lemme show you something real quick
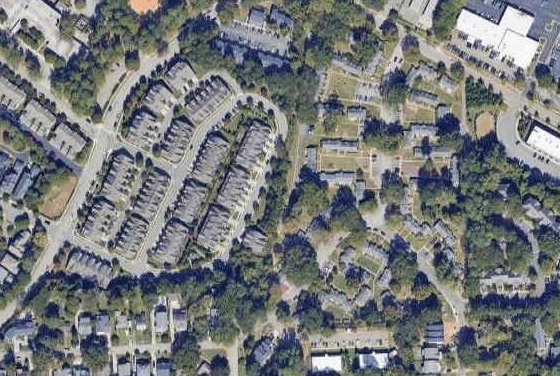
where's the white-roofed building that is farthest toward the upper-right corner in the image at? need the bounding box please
[458,6,539,68]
